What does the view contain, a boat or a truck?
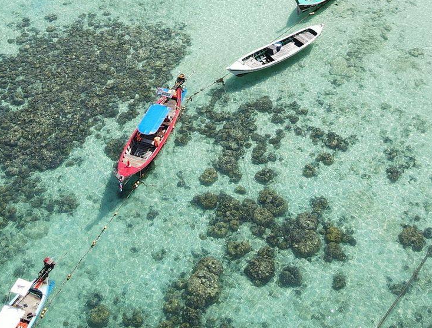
boat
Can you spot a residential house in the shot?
No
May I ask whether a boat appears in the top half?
Yes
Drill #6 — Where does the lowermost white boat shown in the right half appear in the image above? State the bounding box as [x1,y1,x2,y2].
[231,25,323,73]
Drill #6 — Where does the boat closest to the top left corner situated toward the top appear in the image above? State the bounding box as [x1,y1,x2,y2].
[116,54,198,186]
